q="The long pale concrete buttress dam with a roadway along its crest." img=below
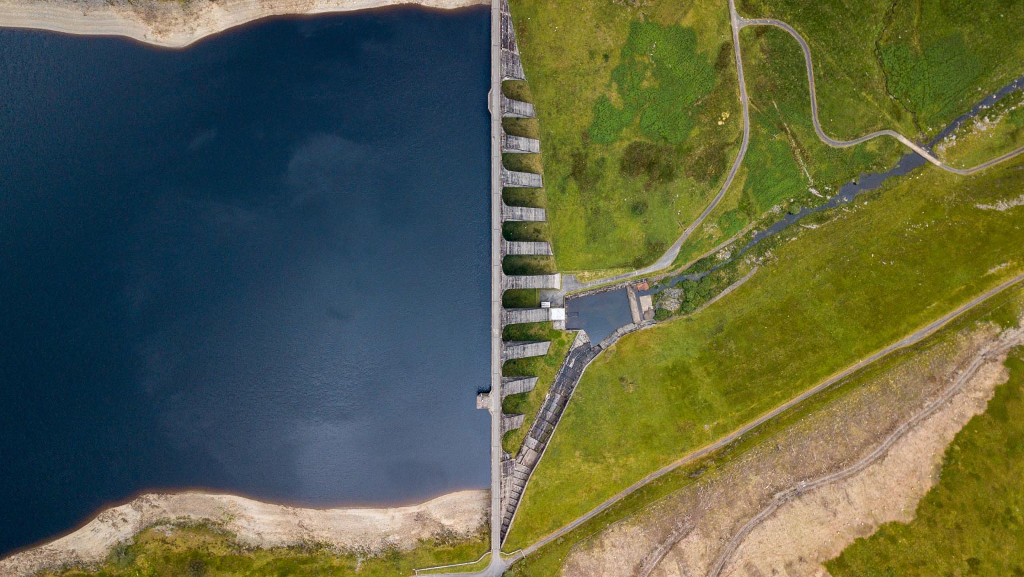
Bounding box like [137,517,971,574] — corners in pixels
[477,0,557,553]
